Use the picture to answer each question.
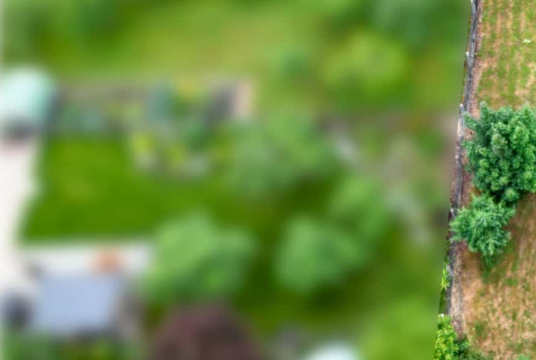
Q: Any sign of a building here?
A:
Yes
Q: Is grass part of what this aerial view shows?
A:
Yes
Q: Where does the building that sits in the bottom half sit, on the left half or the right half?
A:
left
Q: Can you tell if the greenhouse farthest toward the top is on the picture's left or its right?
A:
left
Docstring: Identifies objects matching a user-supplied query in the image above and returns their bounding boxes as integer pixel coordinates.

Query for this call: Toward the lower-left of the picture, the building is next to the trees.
[32,276,139,342]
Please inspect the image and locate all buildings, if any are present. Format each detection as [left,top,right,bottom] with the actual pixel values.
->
[32,276,139,342]
[0,77,65,140]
